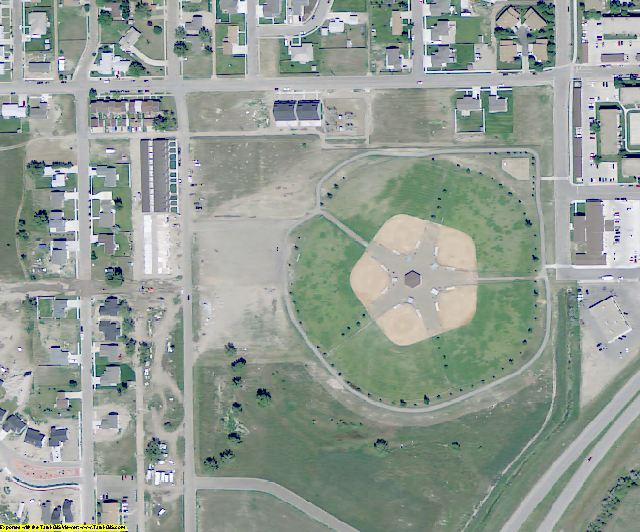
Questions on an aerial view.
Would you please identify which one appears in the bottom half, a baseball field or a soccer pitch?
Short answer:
baseball field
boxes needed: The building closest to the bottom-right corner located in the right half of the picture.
[590,296,632,342]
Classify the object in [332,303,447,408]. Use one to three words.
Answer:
baseball field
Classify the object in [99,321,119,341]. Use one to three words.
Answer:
house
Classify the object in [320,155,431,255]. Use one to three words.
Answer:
baseball field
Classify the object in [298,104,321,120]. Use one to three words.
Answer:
building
